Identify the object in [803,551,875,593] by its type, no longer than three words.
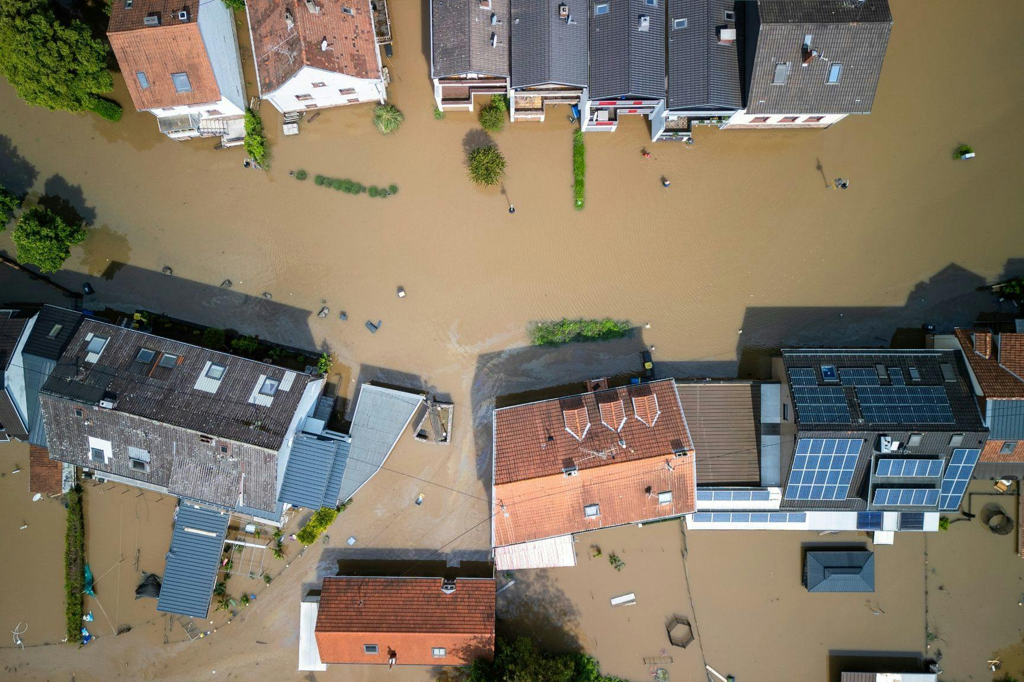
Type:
building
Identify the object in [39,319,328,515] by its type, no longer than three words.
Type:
house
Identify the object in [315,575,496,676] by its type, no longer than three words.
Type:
house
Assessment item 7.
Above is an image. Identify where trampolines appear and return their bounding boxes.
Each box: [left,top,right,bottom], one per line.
[988,509,1024,535]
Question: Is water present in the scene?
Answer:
Yes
